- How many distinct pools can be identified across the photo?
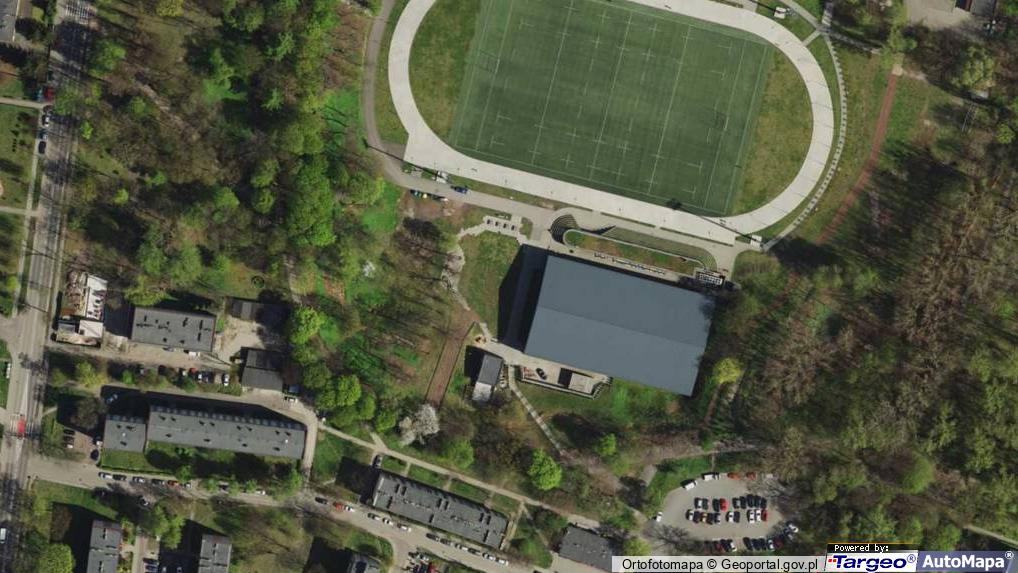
zero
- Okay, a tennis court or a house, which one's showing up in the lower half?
house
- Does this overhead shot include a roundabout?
No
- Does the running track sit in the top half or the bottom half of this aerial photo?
top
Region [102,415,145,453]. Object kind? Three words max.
building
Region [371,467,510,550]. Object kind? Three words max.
building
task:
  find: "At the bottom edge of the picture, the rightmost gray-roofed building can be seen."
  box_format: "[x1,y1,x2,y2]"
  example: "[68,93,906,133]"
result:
[558,524,616,571]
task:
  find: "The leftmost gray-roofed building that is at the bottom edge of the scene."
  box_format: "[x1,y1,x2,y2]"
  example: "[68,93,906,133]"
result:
[86,522,121,573]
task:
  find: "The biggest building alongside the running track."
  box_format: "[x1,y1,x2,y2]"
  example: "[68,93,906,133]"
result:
[523,254,716,397]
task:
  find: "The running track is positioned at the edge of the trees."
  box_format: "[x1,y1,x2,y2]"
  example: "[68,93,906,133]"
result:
[390,0,834,246]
